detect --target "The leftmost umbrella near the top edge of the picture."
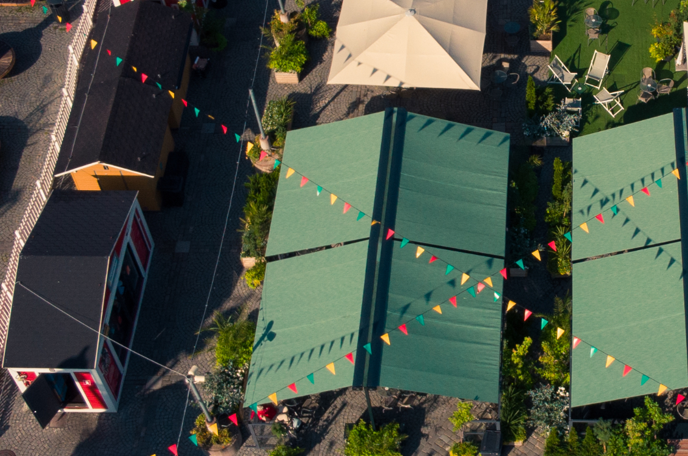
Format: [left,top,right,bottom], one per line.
[327,0,486,107]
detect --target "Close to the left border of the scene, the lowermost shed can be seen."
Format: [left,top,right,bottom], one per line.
[1,192,157,438]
